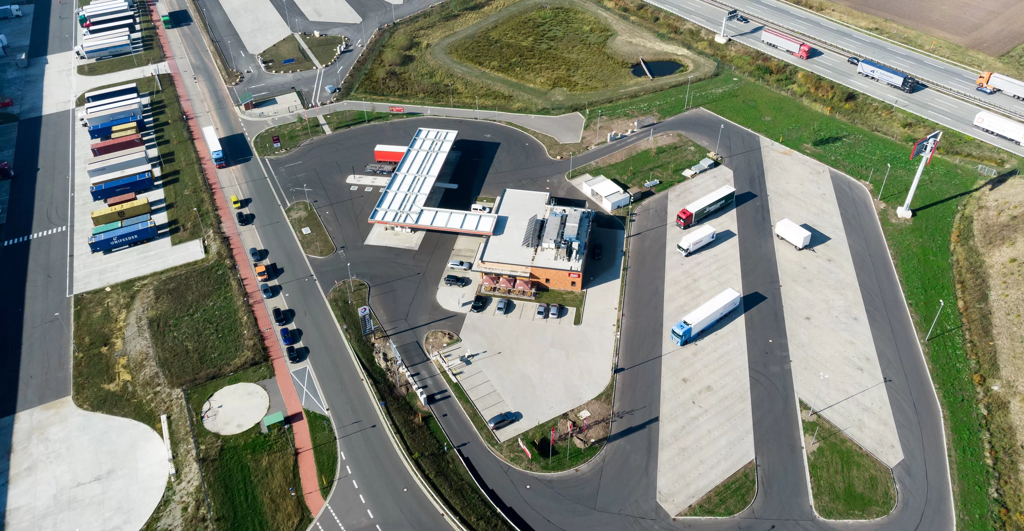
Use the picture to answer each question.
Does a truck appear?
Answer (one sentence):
Yes, the image includes a truck.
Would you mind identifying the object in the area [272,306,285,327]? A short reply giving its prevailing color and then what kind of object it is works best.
black vehicle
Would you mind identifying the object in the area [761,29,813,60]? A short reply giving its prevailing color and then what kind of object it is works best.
white truck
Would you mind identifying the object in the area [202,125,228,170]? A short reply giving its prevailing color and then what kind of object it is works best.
white truck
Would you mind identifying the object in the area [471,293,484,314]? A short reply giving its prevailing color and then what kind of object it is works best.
black vehicle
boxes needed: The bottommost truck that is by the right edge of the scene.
[972,112,1024,148]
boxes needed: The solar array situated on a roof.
[524,220,540,254]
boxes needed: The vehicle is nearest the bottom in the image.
[492,414,520,430]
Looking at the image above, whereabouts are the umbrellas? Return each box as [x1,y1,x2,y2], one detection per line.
[515,279,532,294]
[481,275,499,290]
[497,277,515,292]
